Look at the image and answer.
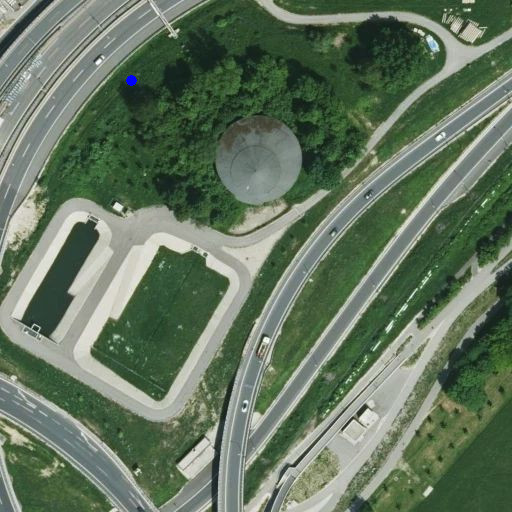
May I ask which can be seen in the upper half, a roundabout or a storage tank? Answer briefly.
storage tank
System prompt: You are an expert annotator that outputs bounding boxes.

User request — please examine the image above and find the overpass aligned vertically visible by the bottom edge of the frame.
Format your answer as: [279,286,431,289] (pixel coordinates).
[218,382,262,512]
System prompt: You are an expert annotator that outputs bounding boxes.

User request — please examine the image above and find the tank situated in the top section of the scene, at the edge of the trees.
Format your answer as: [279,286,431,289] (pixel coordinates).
[216,116,302,204]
